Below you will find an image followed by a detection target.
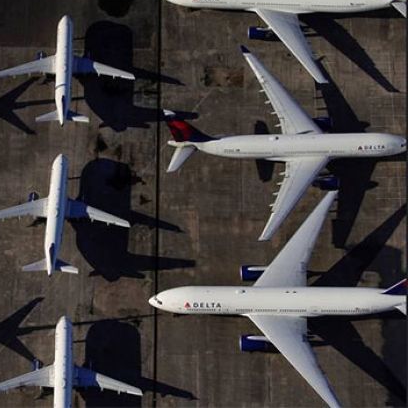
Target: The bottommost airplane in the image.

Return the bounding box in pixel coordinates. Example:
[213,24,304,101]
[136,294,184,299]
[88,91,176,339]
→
[0,318,139,408]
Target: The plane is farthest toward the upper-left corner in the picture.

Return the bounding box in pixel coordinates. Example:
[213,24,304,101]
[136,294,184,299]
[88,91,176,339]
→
[0,16,134,126]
